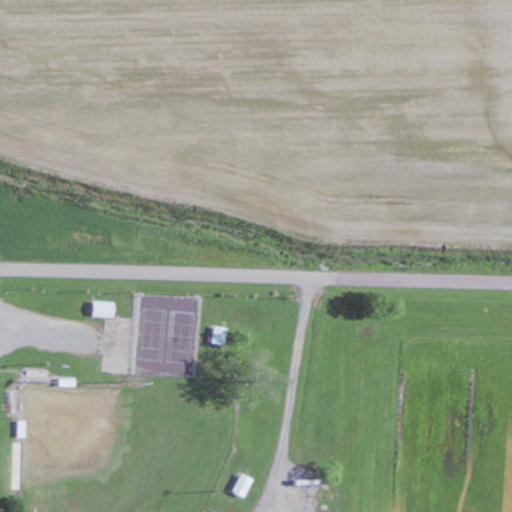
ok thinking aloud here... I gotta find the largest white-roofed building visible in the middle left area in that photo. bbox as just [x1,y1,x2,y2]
[92,300,116,319]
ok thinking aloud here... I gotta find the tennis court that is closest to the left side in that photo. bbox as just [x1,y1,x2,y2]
[136,296,168,376]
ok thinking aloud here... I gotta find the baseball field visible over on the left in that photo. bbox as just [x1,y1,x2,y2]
[12,376,144,504]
